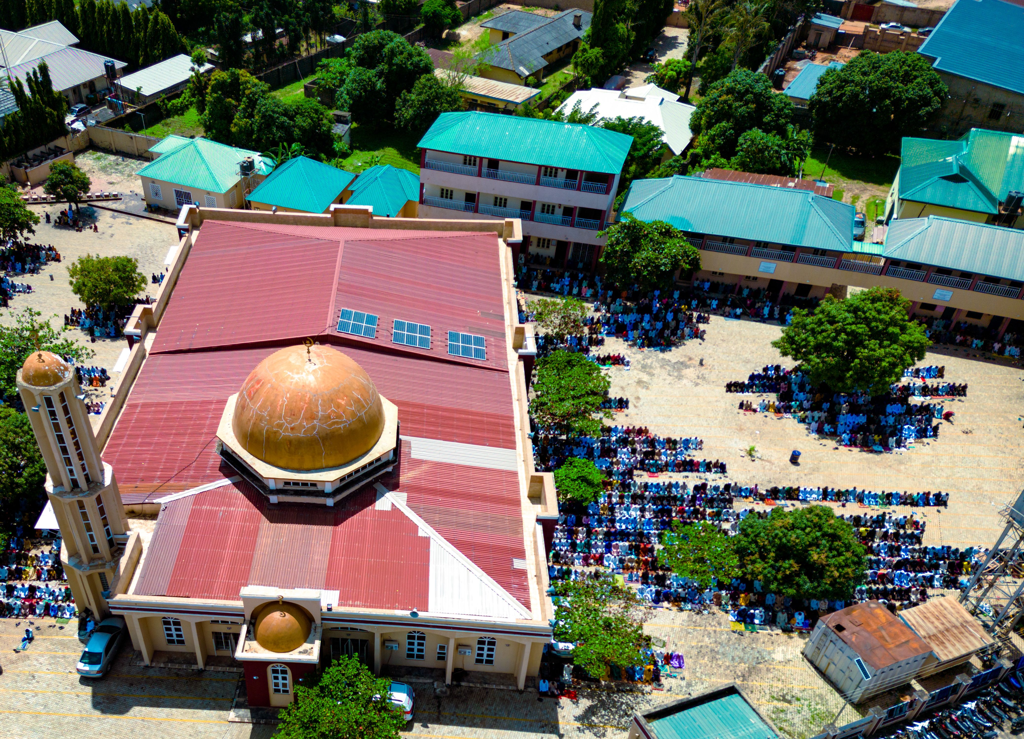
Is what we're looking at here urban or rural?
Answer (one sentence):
The land in this view is best described as urban.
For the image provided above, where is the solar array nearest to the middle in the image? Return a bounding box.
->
[445,331,491,360]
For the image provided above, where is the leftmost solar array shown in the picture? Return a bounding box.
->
[334,308,381,338]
